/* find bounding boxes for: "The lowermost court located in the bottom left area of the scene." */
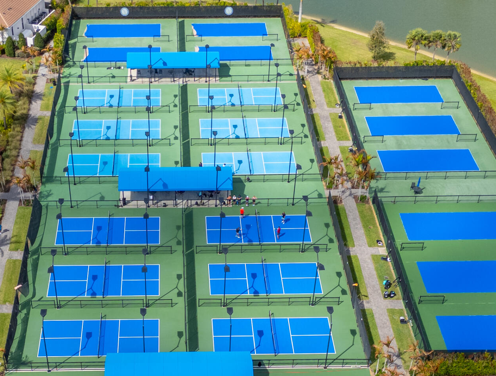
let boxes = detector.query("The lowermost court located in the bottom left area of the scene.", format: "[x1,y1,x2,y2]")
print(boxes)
[36,315,160,359]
